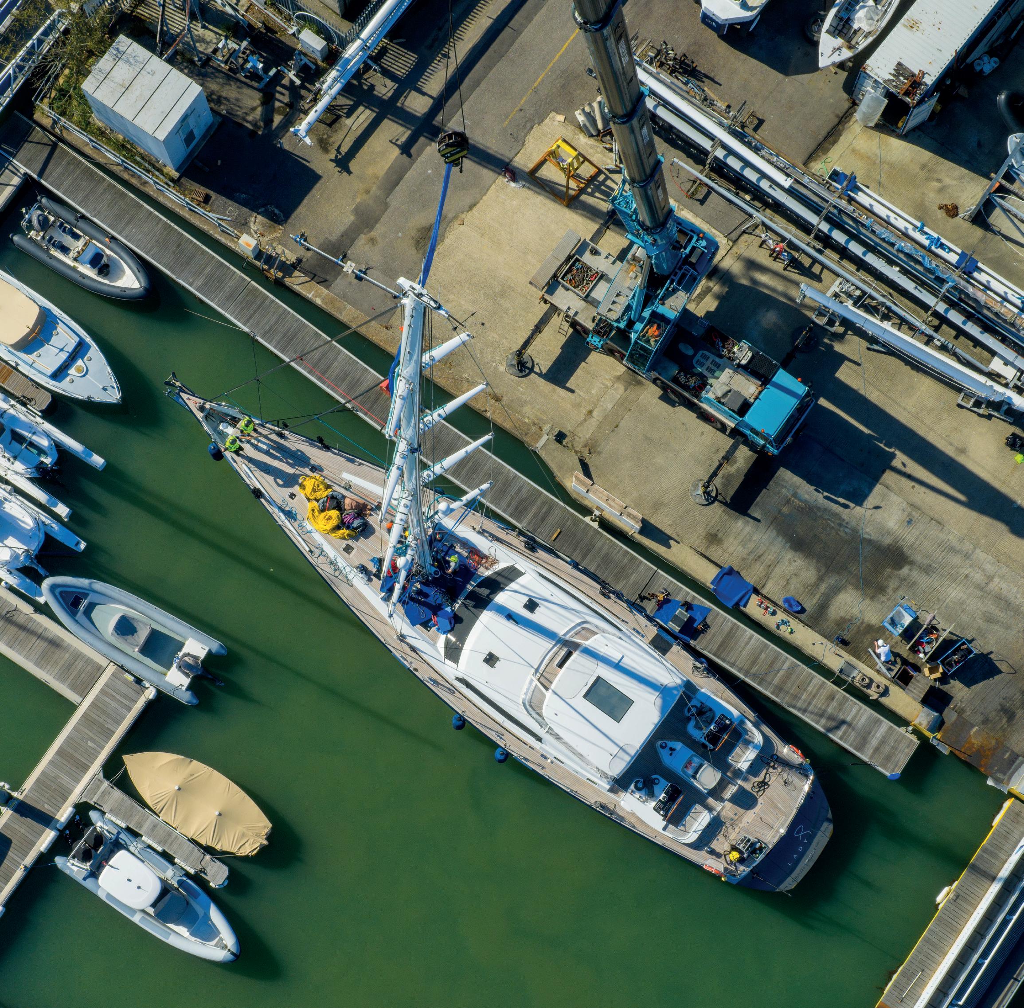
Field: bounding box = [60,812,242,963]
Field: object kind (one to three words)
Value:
boat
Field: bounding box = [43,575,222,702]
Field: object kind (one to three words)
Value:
boat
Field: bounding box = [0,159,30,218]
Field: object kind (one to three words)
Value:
pier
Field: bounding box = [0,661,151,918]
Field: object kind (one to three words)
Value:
pier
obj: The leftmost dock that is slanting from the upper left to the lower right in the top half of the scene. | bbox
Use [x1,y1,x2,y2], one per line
[0,361,54,412]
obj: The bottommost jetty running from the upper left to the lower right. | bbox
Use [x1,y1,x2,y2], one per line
[77,768,230,890]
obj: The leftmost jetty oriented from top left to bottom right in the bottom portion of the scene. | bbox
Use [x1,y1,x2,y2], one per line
[0,579,110,707]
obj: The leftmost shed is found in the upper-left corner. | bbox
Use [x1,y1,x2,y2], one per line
[81,35,221,176]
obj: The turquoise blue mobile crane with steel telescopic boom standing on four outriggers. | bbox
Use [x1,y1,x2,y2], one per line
[506,0,825,502]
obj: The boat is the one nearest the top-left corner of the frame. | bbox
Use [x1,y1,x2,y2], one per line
[15,198,153,301]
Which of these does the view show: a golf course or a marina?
marina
